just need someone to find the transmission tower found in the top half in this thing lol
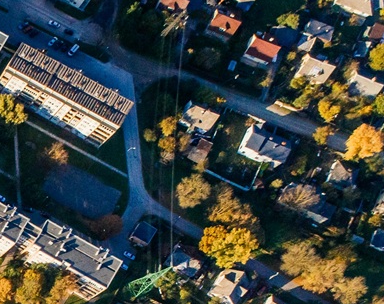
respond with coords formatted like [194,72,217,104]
[165,3,198,35]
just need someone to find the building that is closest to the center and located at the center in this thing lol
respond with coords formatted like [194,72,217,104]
[190,130,214,165]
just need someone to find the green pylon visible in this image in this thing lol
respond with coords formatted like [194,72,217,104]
[129,269,172,297]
